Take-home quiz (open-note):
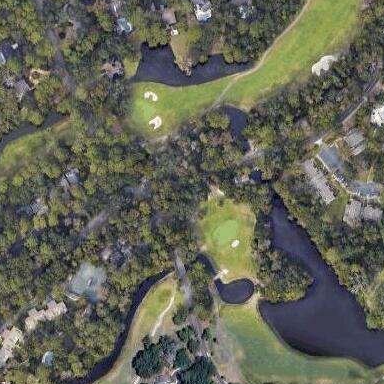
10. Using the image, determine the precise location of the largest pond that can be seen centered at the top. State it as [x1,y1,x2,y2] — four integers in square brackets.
[129,44,253,87]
